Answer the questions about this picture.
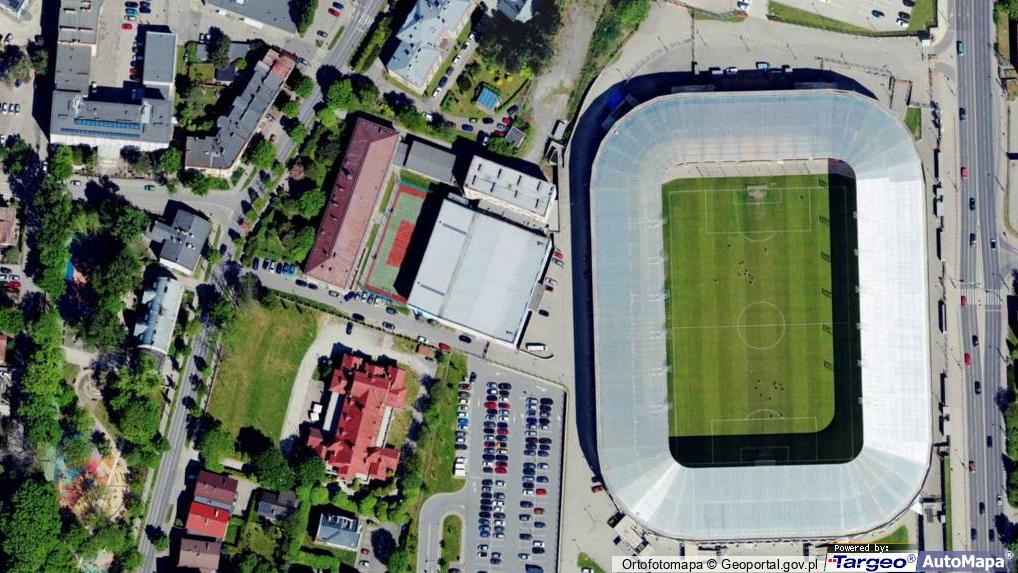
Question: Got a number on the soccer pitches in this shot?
1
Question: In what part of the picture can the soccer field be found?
right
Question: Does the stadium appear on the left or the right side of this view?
right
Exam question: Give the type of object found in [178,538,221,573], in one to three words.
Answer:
house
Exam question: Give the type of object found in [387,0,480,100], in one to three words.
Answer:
building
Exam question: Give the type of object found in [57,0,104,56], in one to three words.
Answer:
building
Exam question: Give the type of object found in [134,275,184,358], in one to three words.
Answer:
house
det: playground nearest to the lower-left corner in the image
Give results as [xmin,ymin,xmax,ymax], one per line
[41,451,125,523]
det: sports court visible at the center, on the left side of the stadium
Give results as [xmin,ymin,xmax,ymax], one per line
[362,176,439,306]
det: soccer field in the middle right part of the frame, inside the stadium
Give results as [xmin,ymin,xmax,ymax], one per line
[664,173,862,467]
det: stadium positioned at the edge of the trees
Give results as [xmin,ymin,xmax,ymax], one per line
[589,85,936,546]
